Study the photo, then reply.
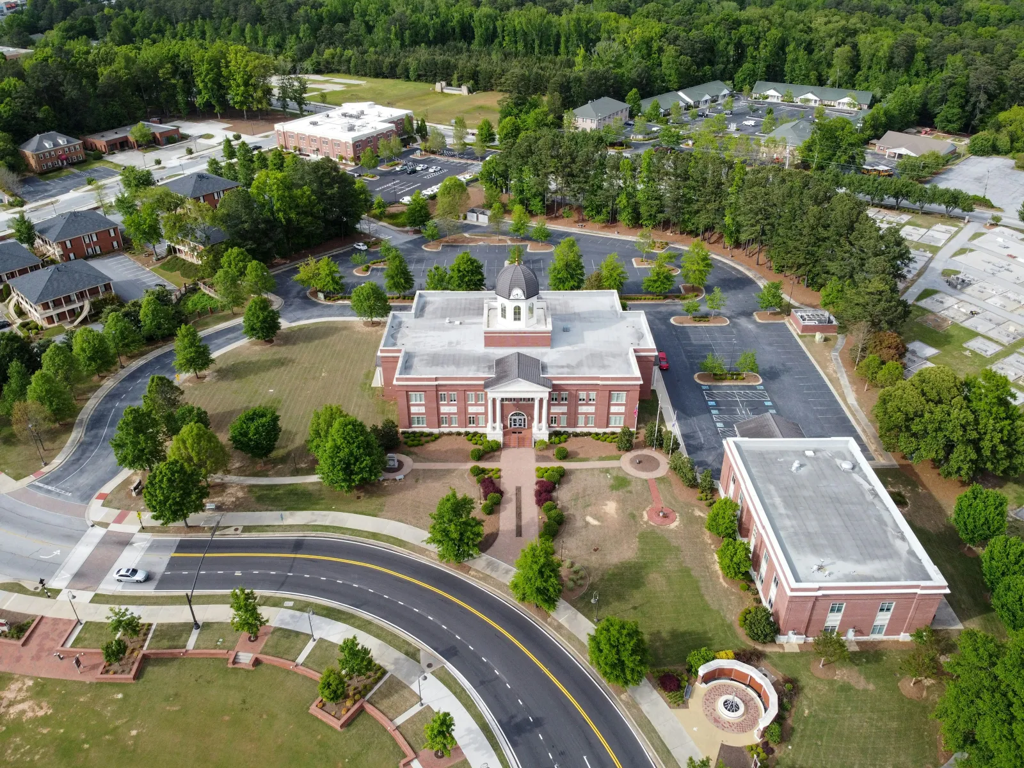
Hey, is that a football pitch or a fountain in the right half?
fountain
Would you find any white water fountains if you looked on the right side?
Yes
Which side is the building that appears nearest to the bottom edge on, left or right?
right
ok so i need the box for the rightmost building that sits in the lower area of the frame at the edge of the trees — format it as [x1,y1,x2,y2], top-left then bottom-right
[721,421,951,647]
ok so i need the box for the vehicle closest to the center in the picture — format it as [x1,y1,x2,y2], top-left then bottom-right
[657,355,671,369]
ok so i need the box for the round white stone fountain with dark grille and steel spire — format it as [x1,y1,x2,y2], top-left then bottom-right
[717,691,747,718]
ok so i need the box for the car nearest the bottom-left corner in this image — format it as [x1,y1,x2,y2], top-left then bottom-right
[108,566,150,583]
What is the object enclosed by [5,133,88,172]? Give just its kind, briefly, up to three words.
house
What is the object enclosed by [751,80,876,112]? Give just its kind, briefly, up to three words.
building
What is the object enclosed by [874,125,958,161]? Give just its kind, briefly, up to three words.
building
